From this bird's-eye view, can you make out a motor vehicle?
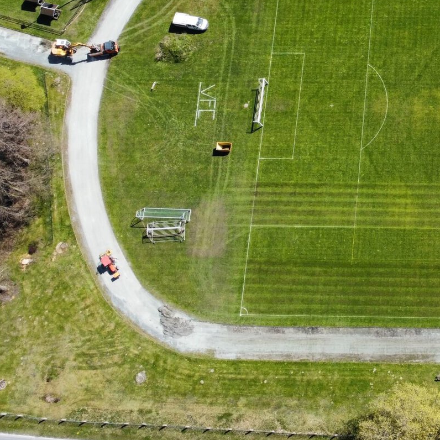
Yes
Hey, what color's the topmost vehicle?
white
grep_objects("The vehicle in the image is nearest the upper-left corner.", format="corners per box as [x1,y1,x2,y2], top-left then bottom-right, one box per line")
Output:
[50,40,92,59]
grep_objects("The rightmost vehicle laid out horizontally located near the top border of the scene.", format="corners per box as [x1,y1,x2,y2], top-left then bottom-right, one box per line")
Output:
[172,13,208,32]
